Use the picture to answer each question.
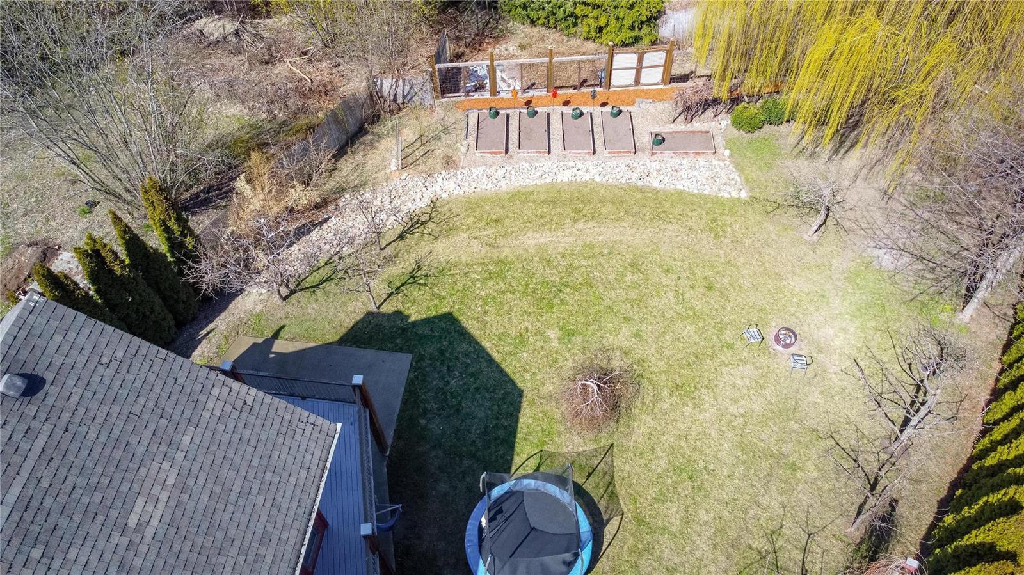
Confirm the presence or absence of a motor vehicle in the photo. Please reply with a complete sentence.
No, the scene contains no motor vehicle.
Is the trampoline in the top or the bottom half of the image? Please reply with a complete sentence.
It is in the bottom half that the trampoline appears.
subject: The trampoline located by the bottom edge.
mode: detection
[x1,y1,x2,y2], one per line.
[464,466,595,575]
